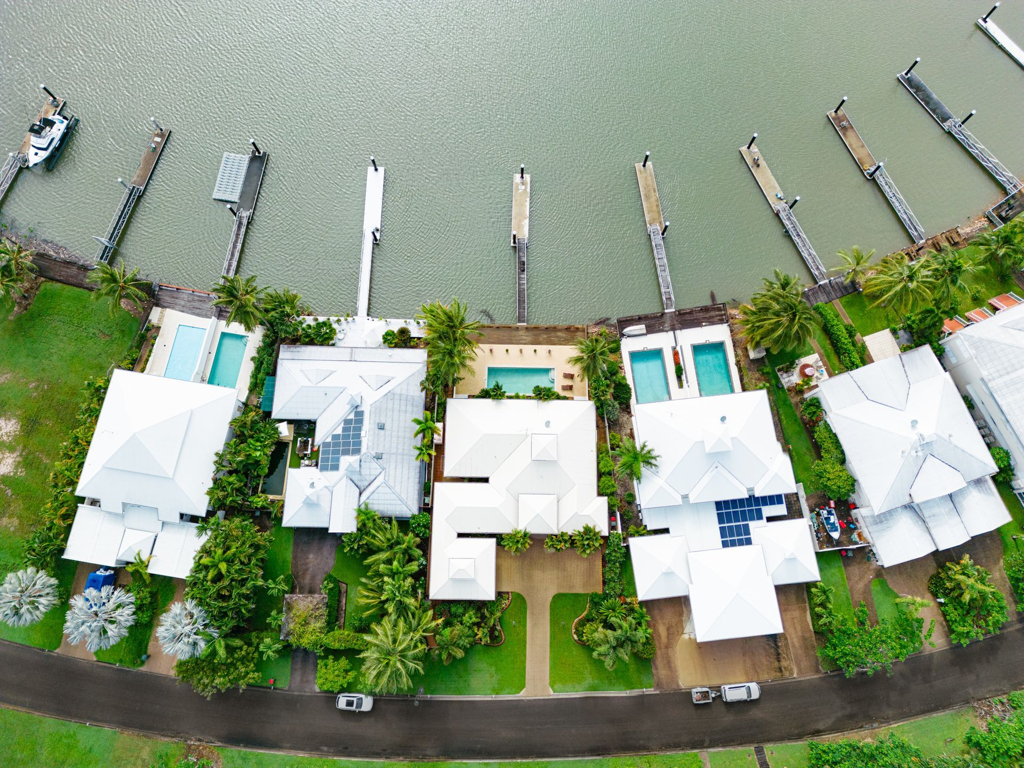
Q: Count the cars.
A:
2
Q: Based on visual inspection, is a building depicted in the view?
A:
Yes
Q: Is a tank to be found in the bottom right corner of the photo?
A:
No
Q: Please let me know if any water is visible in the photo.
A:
Yes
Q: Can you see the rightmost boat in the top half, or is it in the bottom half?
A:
bottom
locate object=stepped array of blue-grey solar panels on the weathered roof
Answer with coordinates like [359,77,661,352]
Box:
[319,410,363,471]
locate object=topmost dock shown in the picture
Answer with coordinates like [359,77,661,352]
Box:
[976,16,1024,73]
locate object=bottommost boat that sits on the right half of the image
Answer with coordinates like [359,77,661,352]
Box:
[819,508,840,538]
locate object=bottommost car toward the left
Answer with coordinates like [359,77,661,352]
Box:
[336,692,374,713]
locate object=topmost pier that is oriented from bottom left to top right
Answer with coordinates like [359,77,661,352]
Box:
[18,96,67,155]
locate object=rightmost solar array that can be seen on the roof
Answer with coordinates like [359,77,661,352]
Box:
[716,494,784,548]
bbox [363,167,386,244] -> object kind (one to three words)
pier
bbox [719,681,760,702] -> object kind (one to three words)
car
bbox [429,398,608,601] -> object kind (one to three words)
house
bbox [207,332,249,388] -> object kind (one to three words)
swimming pool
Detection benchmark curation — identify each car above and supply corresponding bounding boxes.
[719,681,760,702]
[336,692,374,713]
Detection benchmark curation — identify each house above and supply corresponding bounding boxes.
[812,344,1012,567]
[940,296,1024,500]
[272,345,428,533]
[62,369,242,579]
[429,398,608,601]
[628,390,820,643]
